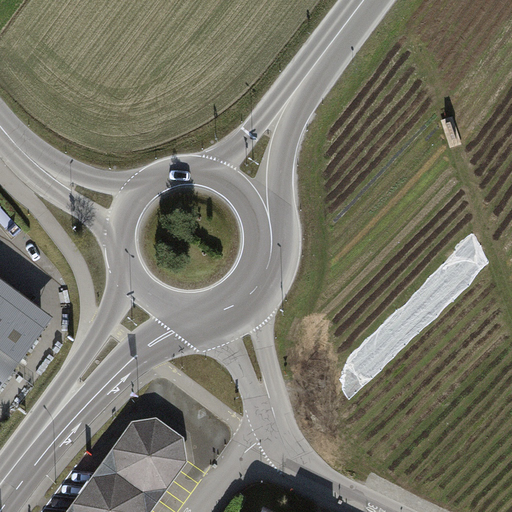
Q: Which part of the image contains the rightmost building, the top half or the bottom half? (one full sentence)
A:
The rightmost building sits in the bottom half of the picture.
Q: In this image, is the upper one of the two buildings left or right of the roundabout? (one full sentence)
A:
Relative to the roundabout, the upper one of the two buildings lies to the left.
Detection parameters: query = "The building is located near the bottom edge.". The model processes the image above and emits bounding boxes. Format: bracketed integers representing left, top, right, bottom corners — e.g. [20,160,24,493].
[72,418,187,512]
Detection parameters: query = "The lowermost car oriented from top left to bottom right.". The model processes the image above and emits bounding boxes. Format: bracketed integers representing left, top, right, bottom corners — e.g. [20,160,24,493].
[25,241,42,262]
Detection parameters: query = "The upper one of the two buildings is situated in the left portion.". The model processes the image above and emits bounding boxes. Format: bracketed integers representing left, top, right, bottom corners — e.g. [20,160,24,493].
[0,278,52,388]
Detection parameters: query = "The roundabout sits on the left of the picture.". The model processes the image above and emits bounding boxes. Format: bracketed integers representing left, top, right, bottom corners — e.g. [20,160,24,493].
[108,158,270,320]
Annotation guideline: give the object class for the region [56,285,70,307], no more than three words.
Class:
vehicle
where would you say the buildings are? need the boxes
[72,418,187,512]
[0,278,52,388]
